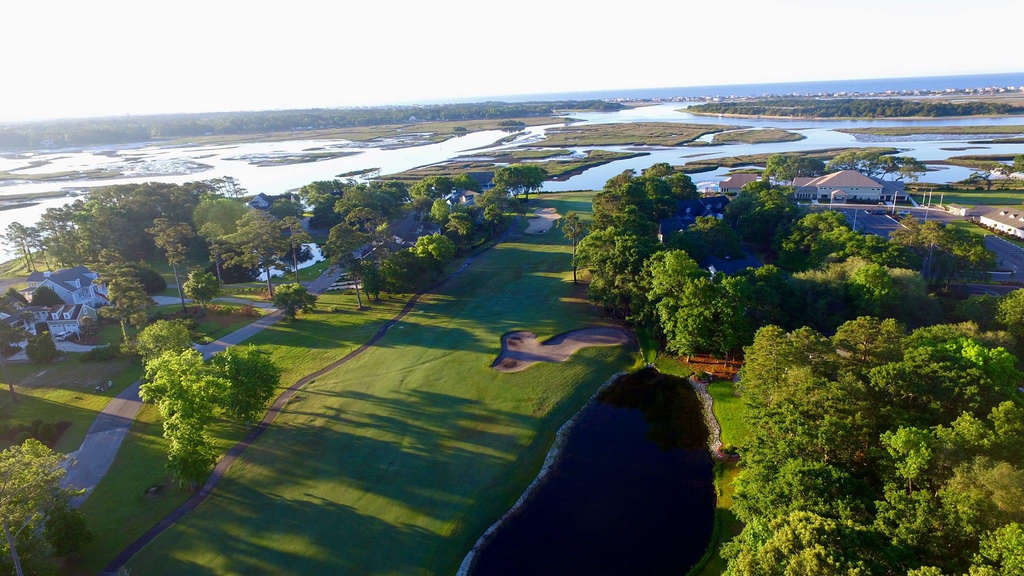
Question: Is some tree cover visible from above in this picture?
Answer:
Yes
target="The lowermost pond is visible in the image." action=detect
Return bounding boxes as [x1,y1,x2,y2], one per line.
[466,368,721,576]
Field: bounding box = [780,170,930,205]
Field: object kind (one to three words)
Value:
building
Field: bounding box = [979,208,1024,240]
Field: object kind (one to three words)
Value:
building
